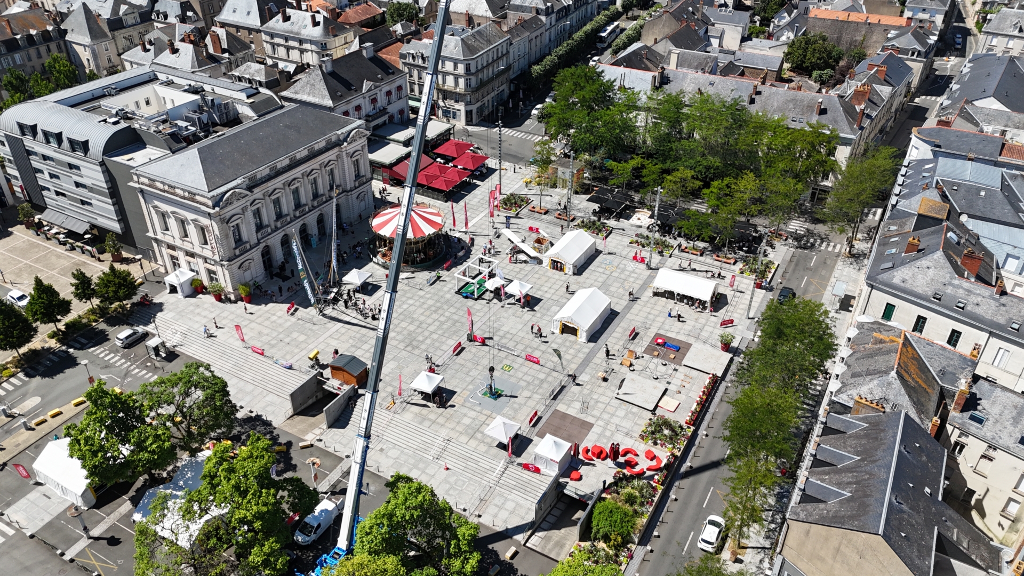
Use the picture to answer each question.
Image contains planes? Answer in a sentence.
Yes, I can see a plane in this picture.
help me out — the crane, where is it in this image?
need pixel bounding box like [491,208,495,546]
[260,0,498,576]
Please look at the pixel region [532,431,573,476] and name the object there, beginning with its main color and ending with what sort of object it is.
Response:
white tent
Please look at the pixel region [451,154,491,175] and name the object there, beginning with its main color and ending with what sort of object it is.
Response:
red umbrella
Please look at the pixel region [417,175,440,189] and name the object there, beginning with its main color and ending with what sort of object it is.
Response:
red umbrella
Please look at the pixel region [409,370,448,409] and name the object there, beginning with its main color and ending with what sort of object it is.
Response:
white tent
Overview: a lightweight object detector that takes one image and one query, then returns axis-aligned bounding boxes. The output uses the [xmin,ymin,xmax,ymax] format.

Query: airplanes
[500,230,552,261]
